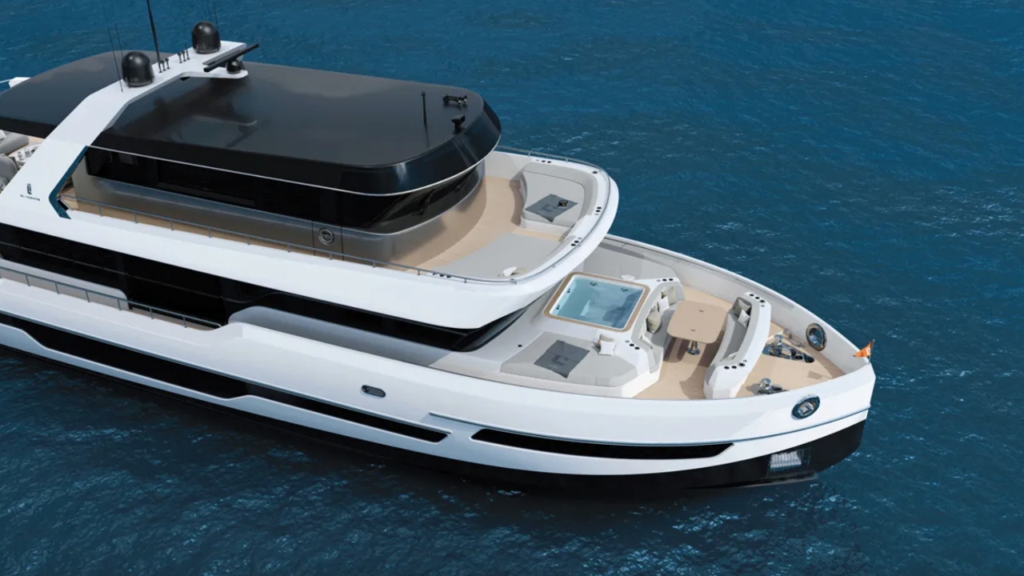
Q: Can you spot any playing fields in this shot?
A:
No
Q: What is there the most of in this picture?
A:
water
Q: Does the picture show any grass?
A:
No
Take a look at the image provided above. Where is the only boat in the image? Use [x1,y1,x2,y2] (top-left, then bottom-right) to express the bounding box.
[0,0,876,497]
